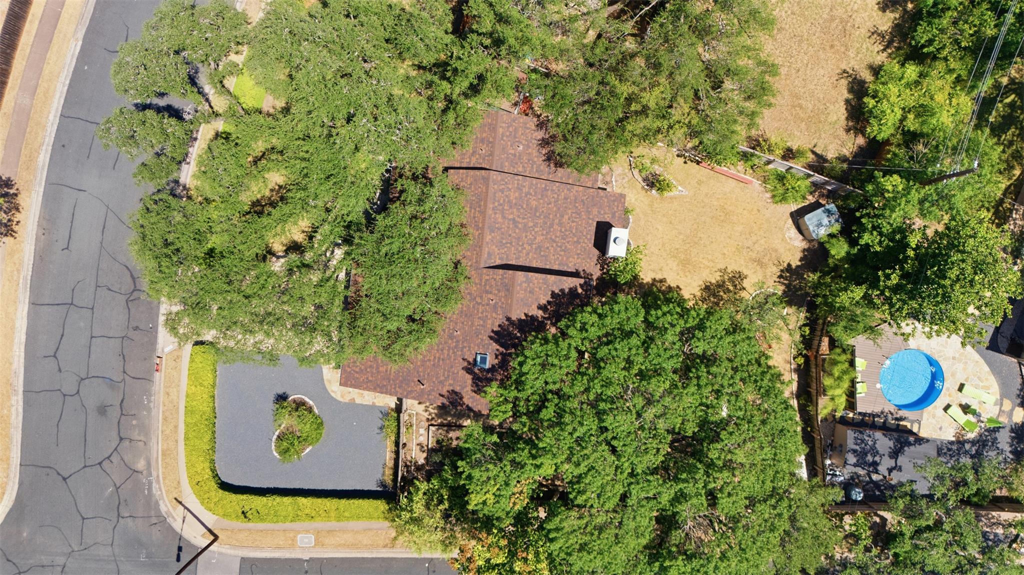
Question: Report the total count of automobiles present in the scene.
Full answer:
There are no automobiles in this view.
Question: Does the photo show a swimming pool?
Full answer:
Yes, the picture does show a swimming pool.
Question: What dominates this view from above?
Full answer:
The bulk of the photo consists of trees.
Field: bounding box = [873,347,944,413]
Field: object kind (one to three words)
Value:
swimming pool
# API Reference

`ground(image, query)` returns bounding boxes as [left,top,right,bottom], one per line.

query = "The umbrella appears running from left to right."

[974,413,1008,426]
